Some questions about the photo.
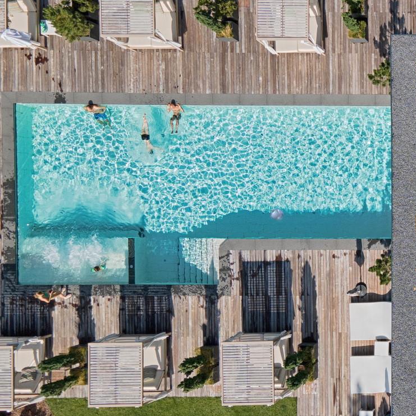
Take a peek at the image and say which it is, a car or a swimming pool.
swimming pool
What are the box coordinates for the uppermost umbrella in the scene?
[349,284,367,298]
